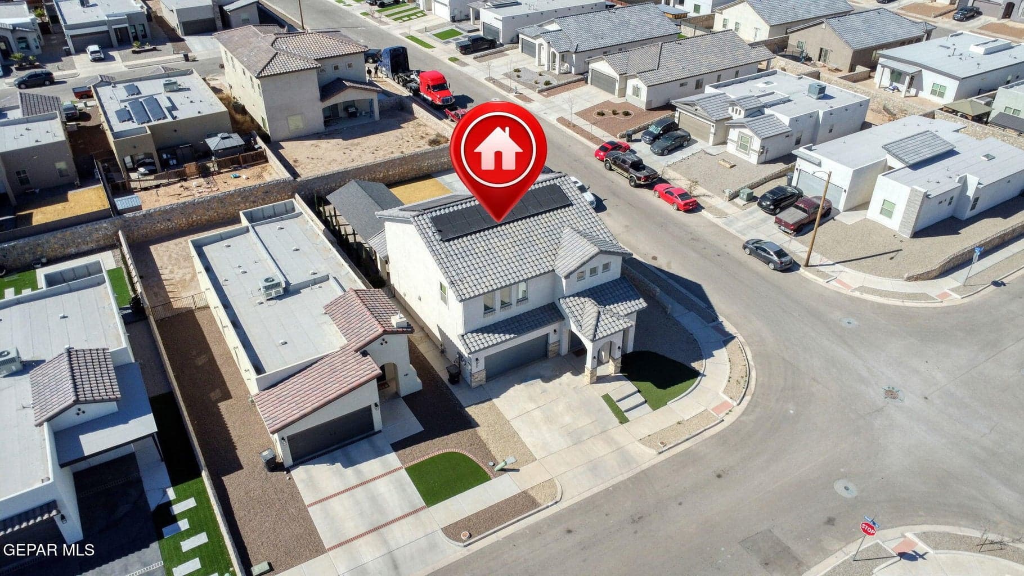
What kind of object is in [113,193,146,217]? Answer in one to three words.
shed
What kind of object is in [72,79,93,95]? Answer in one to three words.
vehicle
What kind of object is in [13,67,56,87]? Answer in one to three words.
car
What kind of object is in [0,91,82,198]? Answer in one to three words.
house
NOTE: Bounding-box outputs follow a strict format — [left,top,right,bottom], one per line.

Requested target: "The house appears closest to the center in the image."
[374,176,649,388]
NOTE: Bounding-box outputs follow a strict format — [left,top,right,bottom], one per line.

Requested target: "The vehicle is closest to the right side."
[949,2,977,18]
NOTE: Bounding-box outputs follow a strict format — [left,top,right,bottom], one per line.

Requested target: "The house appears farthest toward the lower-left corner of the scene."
[0,257,169,573]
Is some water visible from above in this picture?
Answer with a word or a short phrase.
No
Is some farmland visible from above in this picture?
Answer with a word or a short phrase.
No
